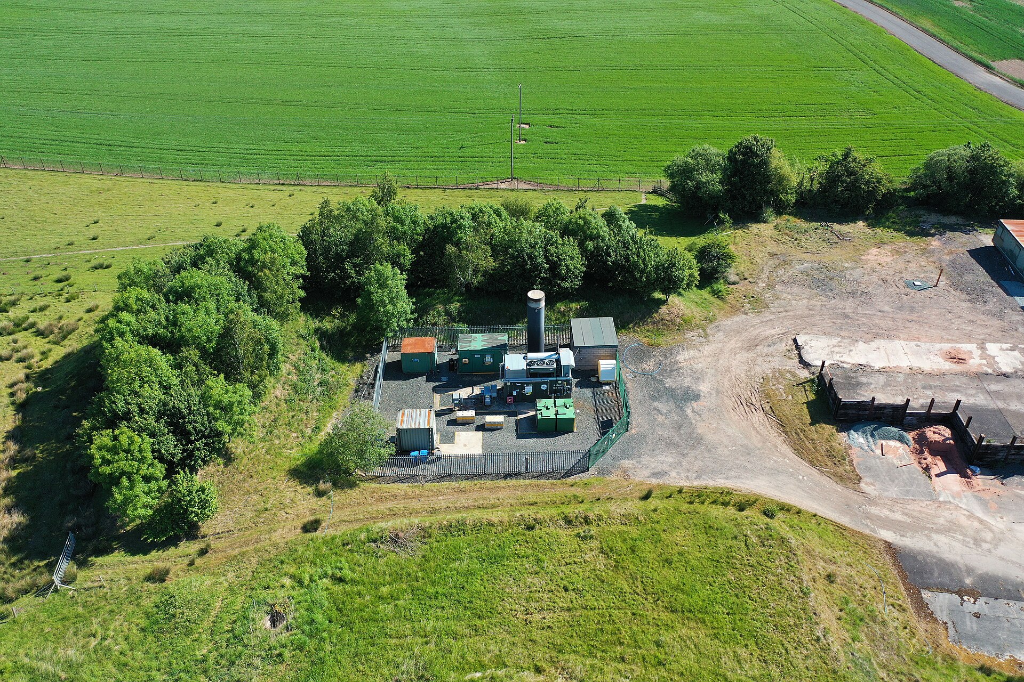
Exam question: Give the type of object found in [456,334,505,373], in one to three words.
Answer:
building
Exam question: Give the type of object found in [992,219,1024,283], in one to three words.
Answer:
building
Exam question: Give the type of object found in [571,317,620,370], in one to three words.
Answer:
shed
